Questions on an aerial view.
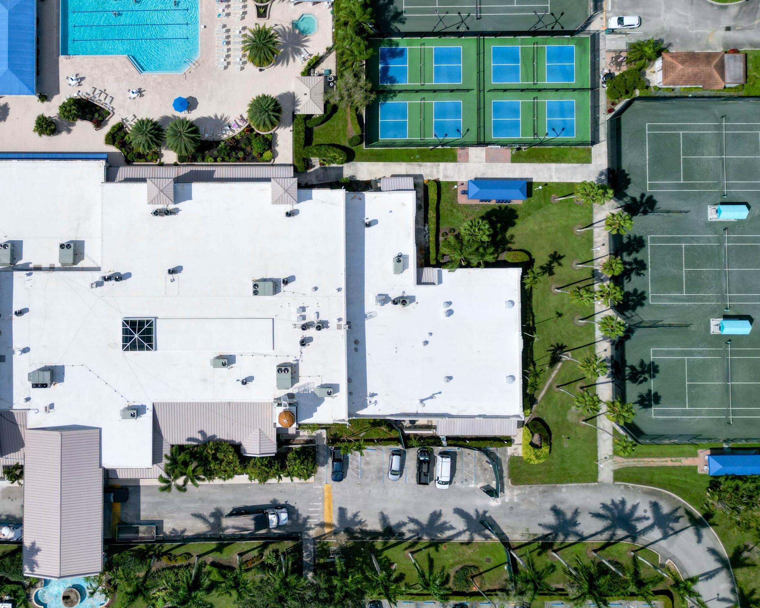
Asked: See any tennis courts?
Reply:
Yes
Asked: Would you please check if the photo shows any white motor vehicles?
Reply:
Yes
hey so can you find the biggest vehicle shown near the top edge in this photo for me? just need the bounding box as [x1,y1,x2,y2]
[611,13,643,28]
